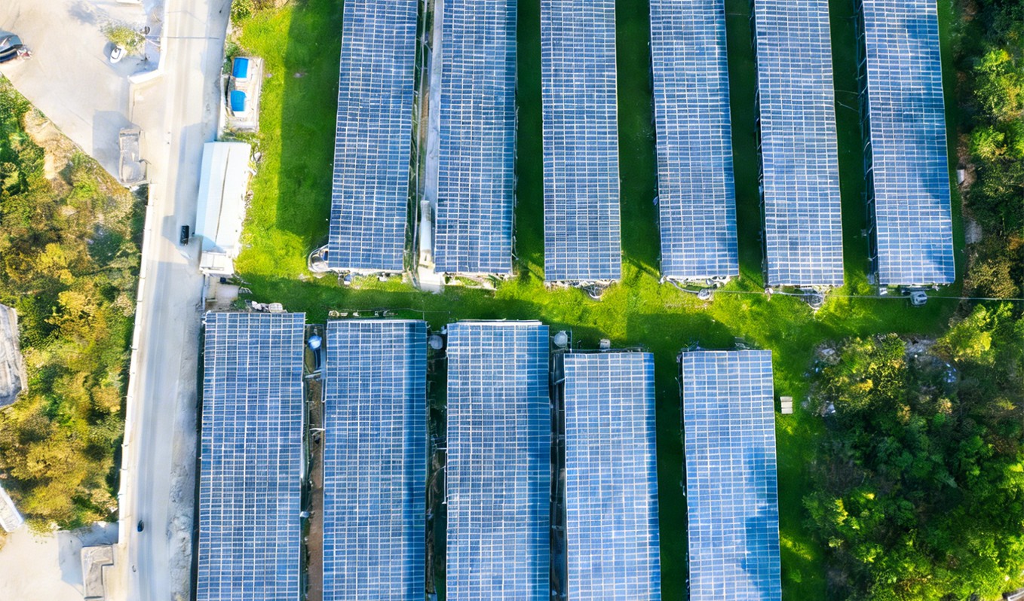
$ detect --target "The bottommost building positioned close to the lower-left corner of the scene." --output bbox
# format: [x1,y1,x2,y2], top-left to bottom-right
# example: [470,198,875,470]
[80,543,122,601]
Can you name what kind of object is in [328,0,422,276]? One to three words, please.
shed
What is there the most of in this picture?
buildings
